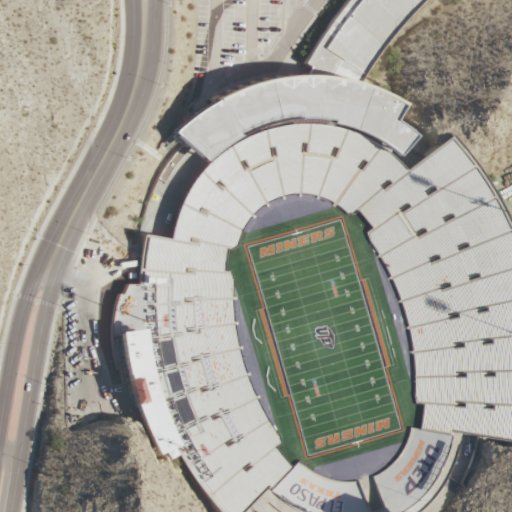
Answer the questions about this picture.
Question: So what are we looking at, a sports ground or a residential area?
sports ground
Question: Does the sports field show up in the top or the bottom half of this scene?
bottom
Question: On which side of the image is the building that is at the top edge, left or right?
right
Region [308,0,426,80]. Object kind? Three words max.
building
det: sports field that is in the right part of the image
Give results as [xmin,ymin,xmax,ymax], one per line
[226,206,425,469]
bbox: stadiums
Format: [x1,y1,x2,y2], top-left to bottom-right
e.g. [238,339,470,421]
[113,74,512,512]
